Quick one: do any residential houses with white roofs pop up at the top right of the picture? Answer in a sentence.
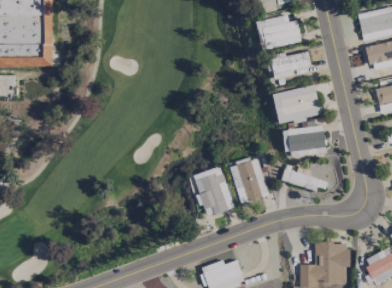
Yes, a residential house with a white roof shows up at the top right of the picture.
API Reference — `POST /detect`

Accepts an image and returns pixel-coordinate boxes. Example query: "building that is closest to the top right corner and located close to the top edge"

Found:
[358,6,392,41]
